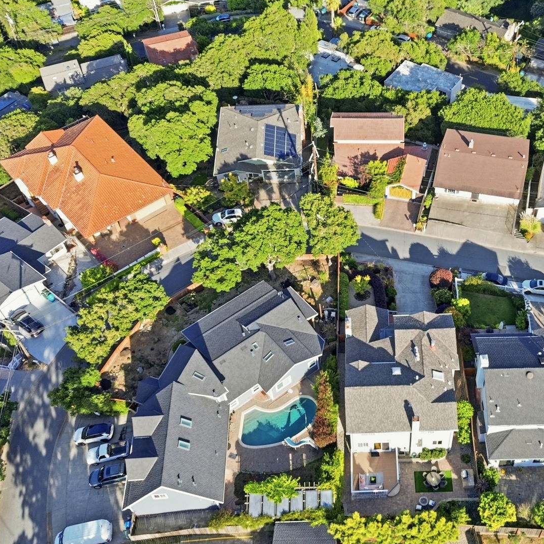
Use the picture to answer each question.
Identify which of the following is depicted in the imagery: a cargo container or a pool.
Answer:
pool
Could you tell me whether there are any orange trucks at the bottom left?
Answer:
No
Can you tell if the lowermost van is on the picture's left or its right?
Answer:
left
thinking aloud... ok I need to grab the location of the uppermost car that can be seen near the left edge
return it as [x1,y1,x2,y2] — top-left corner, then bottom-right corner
[11,314,43,338]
